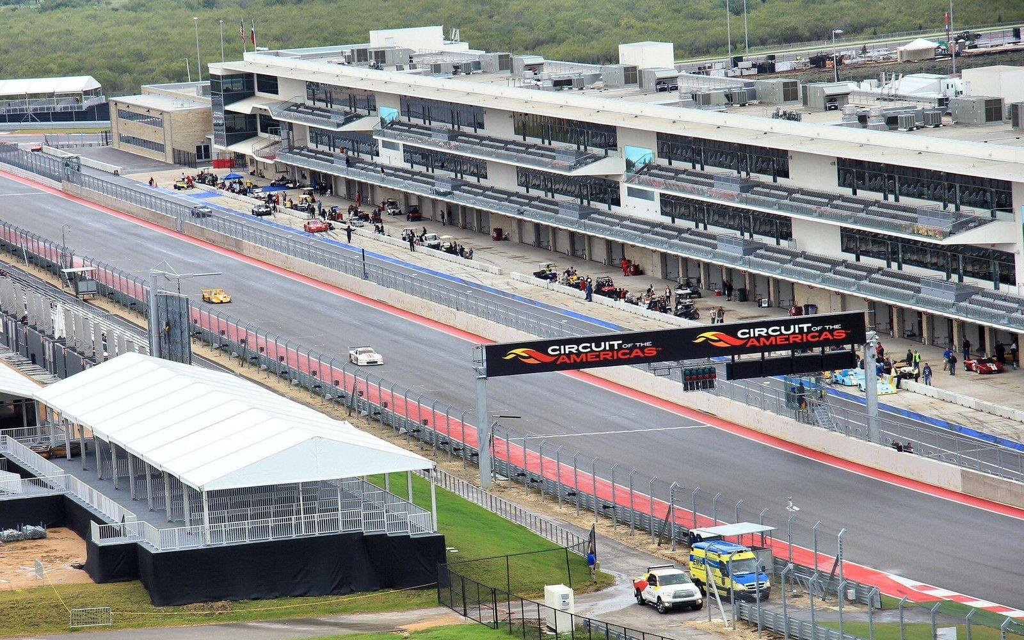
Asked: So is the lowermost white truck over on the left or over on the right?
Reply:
right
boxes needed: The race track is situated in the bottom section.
[0,175,1024,614]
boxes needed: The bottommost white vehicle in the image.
[622,556,714,613]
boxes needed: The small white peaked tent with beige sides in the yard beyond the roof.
[889,37,937,62]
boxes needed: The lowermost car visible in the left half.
[348,342,385,365]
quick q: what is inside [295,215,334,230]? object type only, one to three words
car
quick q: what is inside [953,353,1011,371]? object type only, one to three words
car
